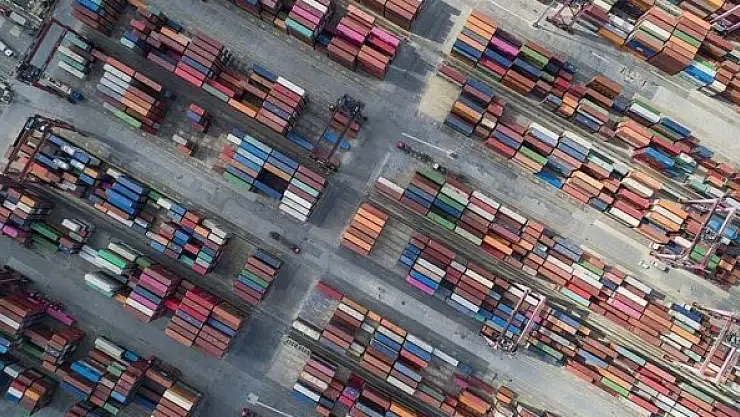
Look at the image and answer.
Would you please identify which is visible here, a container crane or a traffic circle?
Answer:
container crane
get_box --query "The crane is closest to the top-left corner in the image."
[8,8,107,100]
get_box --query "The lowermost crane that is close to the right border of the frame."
[658,298,740,384]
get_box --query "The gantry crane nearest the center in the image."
[304,87,371,172]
